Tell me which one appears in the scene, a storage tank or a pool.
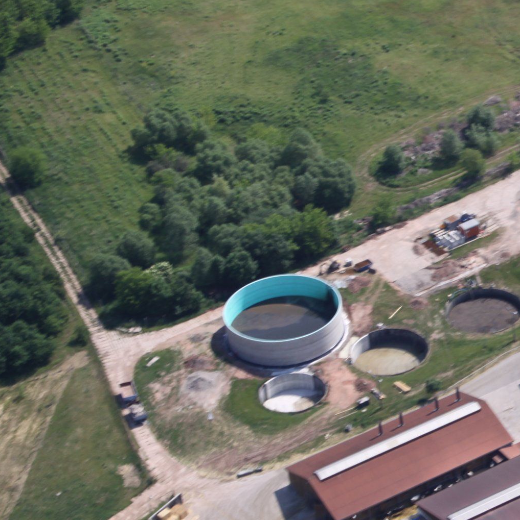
storage tank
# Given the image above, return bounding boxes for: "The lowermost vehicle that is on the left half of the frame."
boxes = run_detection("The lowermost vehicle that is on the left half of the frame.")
[126,399,147,428]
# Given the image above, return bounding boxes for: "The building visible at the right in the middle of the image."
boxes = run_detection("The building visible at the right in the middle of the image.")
[460,218,484,237]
